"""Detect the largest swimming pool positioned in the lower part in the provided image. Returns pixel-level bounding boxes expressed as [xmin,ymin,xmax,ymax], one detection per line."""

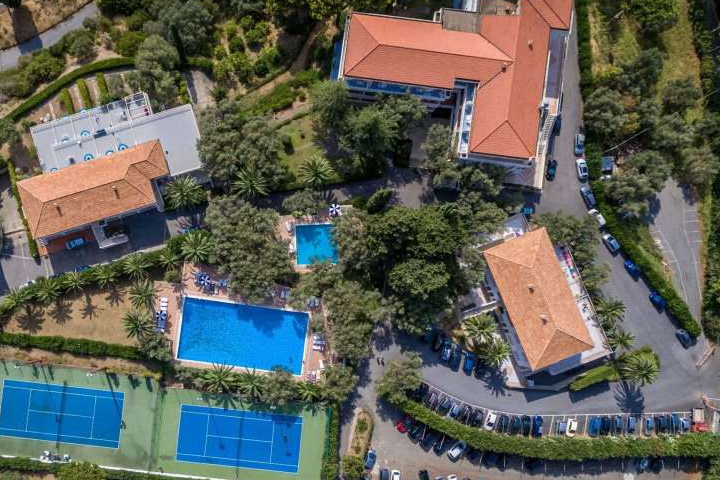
[154,260,332,384]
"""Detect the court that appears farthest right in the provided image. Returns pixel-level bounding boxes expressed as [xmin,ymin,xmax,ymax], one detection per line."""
[148,380,330,480]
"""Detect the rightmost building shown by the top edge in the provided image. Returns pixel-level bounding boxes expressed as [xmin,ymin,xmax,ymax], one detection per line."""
[329,0,575,192]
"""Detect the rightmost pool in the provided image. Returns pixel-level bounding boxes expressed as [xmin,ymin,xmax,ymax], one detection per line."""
[278,204,357,280]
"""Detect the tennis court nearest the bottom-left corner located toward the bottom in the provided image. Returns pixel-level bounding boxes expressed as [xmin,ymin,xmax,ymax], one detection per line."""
[0,361,157,472]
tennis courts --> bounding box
[0,361,157,472]
[148,380,330,480]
